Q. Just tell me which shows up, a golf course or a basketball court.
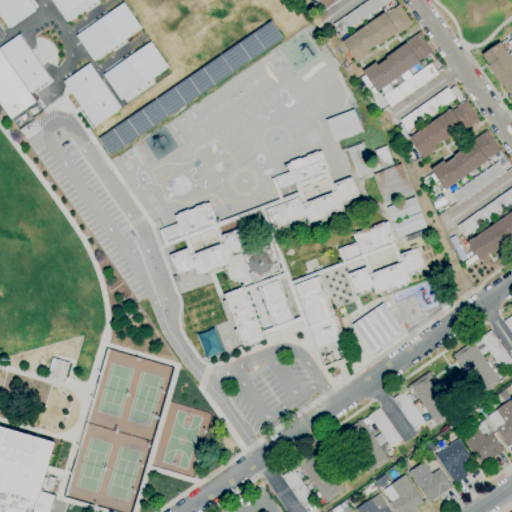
basketball court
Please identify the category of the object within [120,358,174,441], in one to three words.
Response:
tennis court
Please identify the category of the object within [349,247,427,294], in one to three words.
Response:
building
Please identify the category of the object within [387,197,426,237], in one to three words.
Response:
shed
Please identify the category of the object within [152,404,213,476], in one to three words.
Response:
basketball court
